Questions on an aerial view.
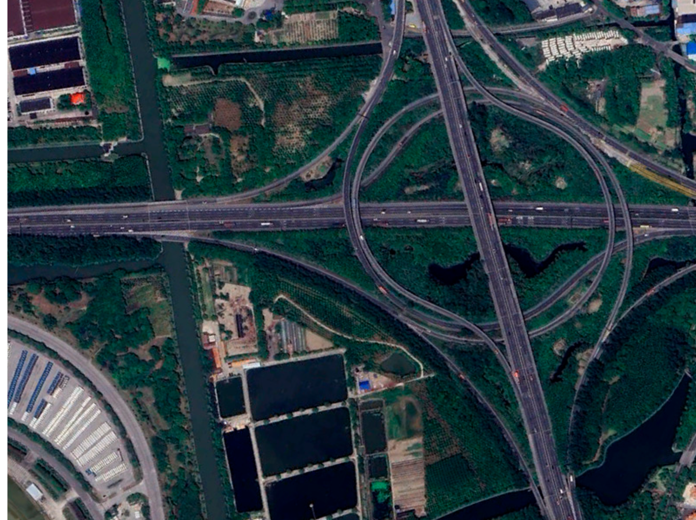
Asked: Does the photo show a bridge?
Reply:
Yes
